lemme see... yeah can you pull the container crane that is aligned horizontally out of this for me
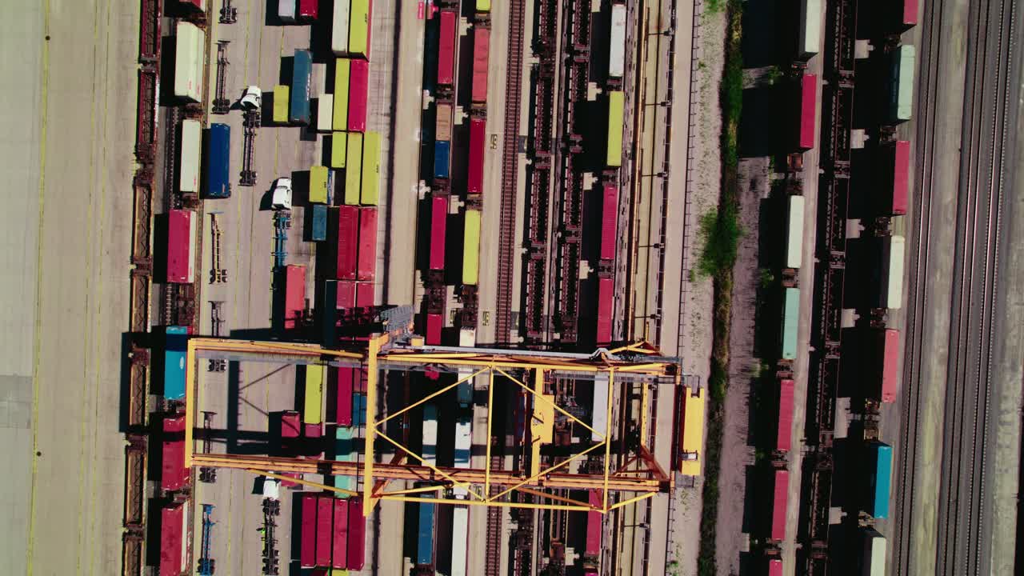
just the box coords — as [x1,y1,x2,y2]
[182,302,705,514]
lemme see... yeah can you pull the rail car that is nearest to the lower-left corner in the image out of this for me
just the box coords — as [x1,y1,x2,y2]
[122,528,145,576]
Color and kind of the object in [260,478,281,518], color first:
white truck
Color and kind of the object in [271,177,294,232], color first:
white truck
